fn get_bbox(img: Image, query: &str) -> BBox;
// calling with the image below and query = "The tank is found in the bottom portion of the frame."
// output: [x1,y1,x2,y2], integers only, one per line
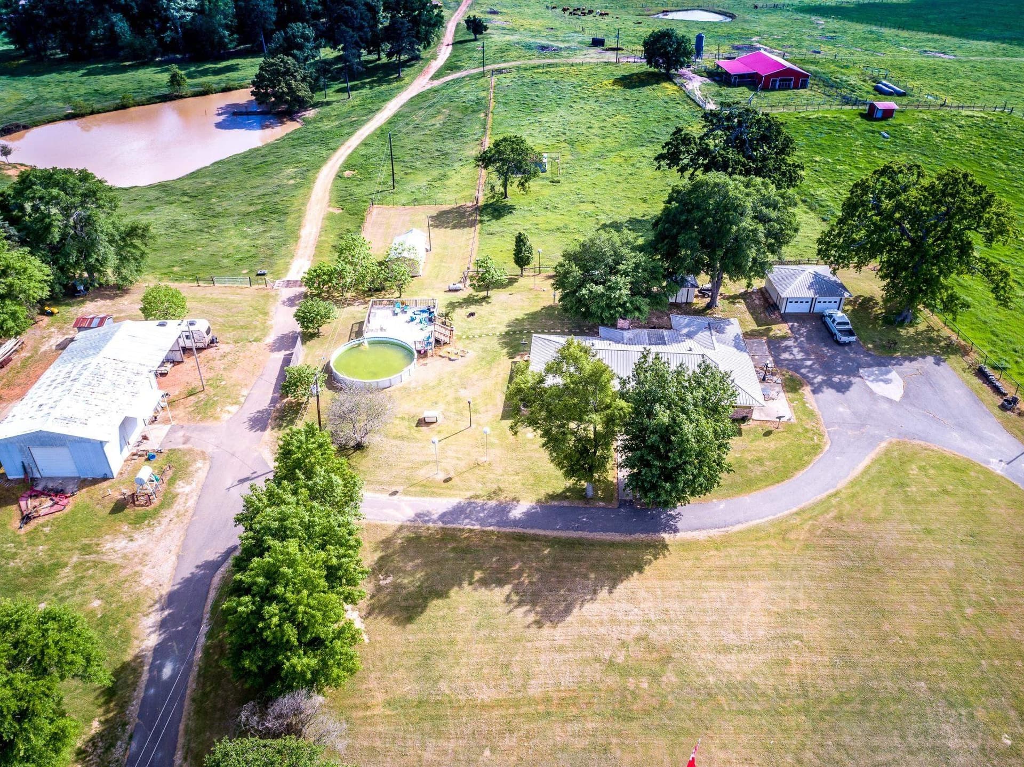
[129,467,159,501]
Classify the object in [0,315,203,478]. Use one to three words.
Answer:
barn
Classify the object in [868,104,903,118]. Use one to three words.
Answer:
shed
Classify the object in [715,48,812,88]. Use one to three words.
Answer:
barn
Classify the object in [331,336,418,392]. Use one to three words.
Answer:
swimming pool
